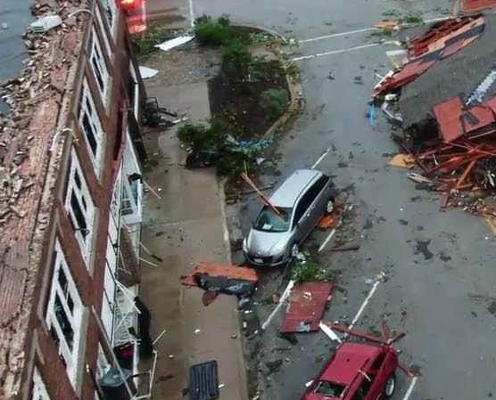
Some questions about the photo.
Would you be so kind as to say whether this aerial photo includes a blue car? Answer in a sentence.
No, there appears to be no blue car in this shot.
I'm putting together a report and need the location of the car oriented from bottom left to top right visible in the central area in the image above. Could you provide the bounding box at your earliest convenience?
[242,172,333,267]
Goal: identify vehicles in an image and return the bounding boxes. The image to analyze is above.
[242,172,333,267]
[296,325,402,400]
